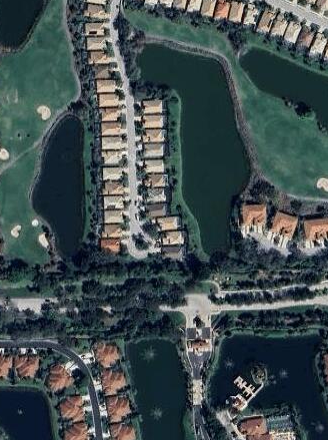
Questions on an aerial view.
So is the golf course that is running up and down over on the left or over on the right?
left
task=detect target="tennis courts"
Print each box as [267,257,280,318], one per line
[266,417,294,434]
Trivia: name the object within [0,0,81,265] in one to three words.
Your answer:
golf course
